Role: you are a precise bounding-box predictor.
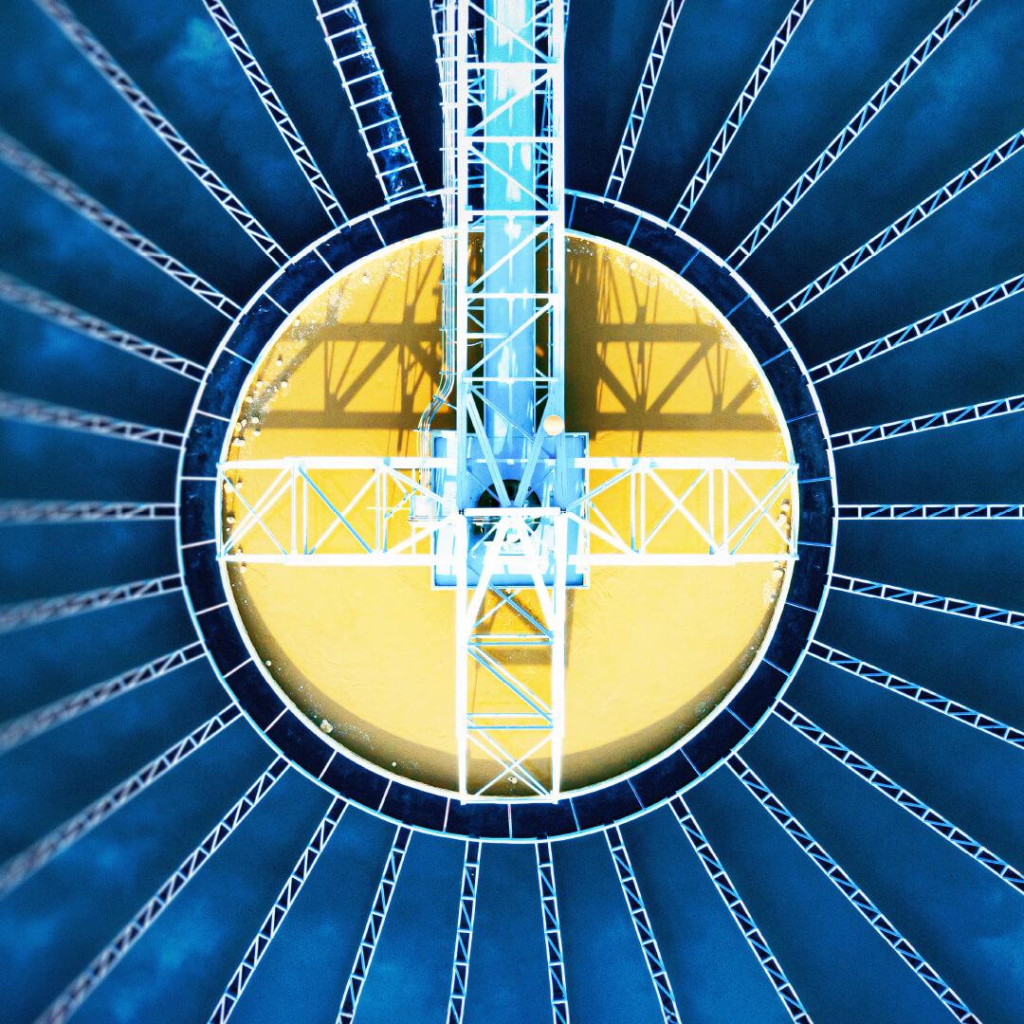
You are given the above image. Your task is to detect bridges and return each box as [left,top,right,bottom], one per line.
[457,0,568,510]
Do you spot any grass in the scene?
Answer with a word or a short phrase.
No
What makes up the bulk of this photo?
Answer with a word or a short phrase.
water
